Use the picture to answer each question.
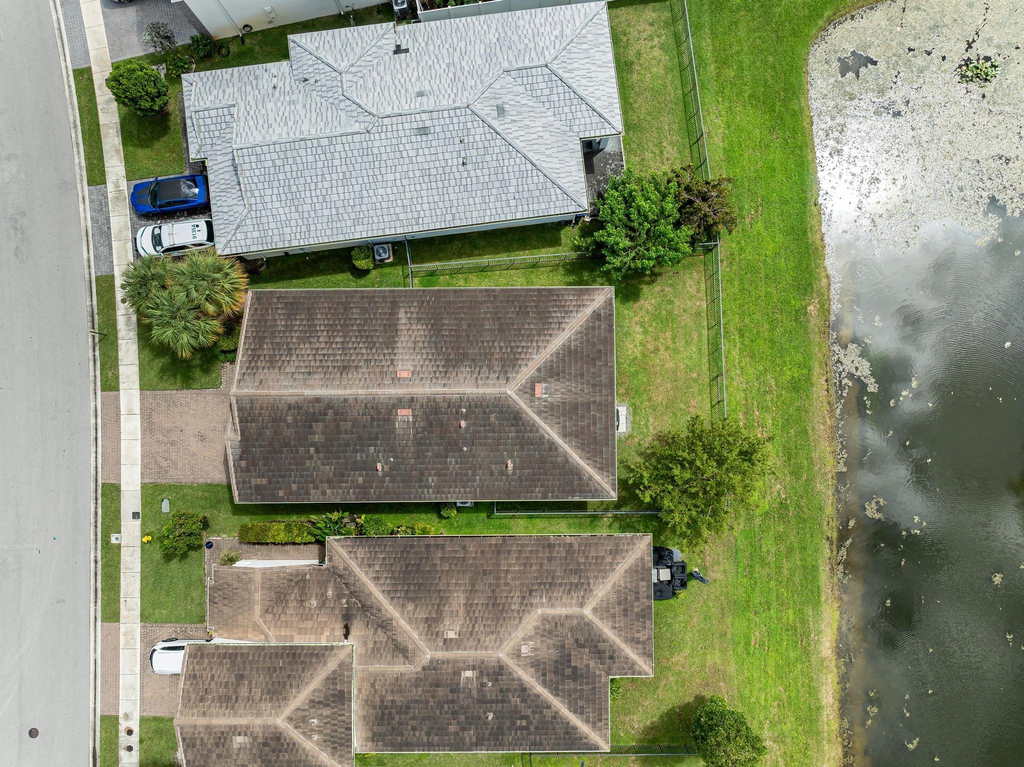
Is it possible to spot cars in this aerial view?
Yes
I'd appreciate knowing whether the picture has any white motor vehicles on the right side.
No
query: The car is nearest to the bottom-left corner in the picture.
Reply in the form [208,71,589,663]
[150,637,206,676]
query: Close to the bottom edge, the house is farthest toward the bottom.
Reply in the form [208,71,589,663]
[172,535,654,767]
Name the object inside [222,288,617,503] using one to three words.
house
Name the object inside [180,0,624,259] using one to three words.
house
